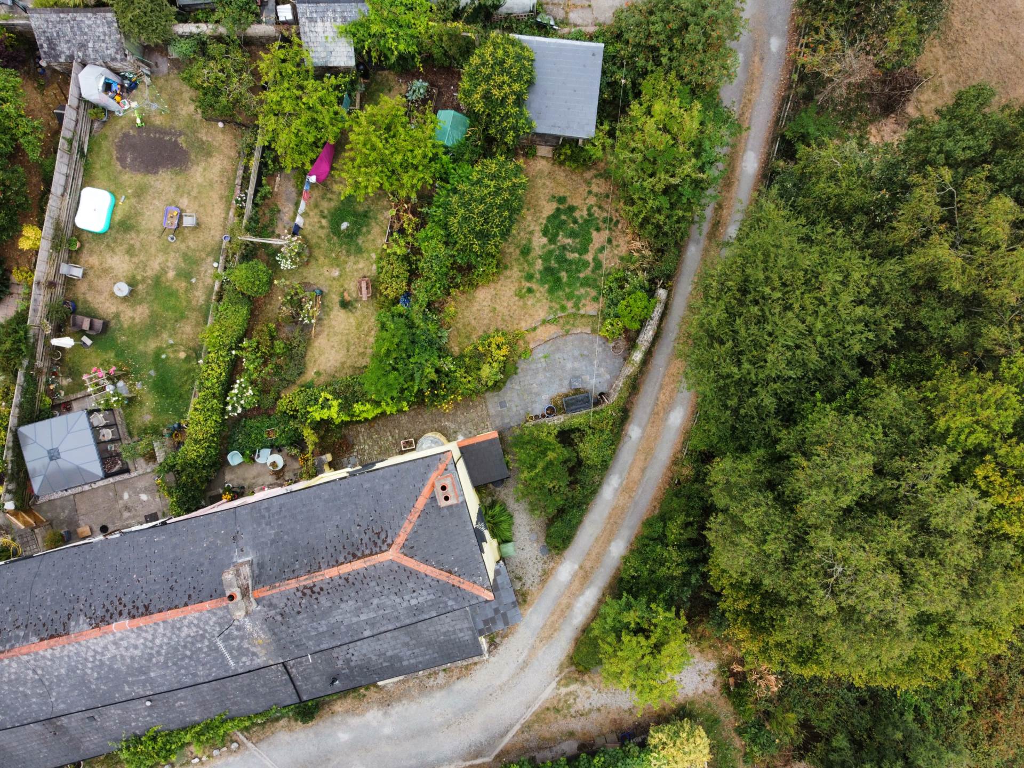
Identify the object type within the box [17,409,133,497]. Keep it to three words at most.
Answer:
gazebo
